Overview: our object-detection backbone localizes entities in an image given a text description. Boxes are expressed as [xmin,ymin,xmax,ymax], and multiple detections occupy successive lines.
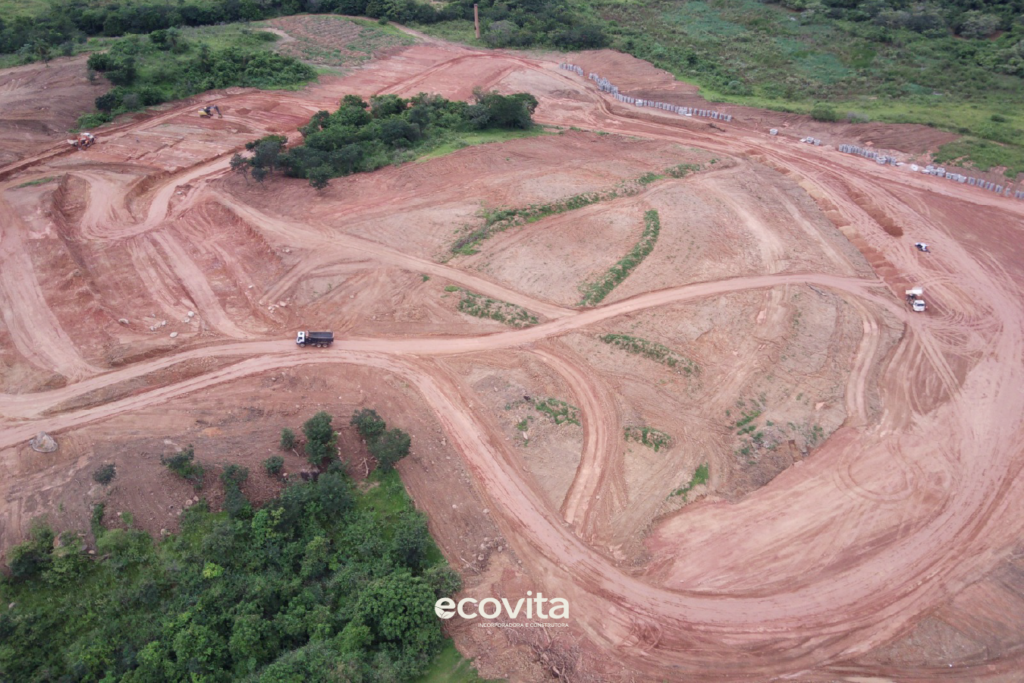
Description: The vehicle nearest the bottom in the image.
[294,331,334,348]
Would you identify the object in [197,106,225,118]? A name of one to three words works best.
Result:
vehicle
